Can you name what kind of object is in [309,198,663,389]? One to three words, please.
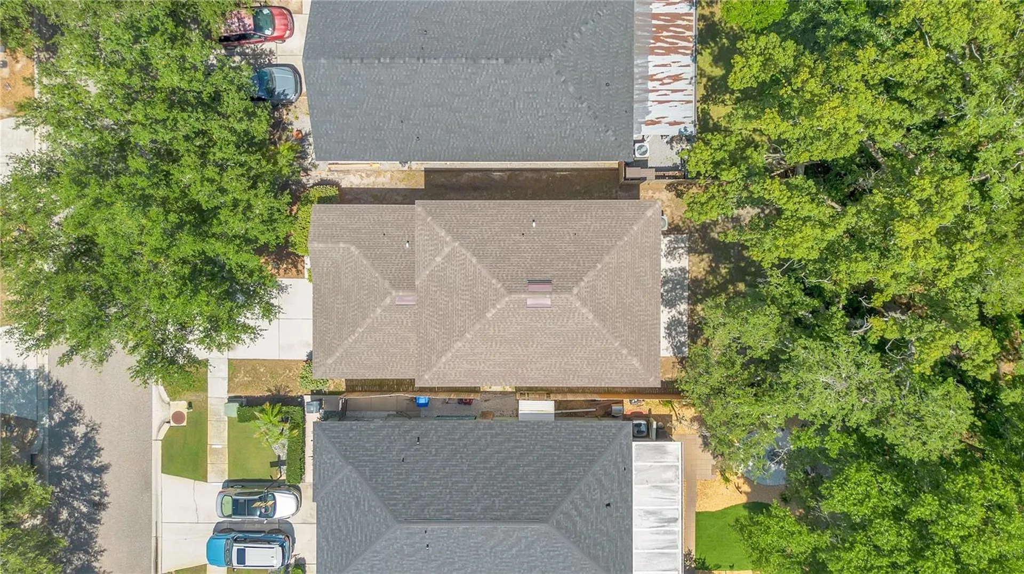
house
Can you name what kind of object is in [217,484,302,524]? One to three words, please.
car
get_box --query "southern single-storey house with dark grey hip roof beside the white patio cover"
[311,419,634,574]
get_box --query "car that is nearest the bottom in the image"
[208,529,293,573]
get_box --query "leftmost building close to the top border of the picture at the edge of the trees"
[303,0,635,167]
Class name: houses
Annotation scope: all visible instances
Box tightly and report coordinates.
[311,419,634,574]
[309,198,663,389]
[303,0,635,167]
